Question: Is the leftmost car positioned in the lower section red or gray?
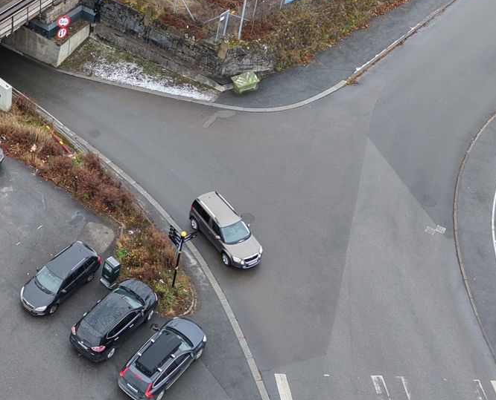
gray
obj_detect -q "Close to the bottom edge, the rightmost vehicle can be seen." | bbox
[114,314,211,400]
